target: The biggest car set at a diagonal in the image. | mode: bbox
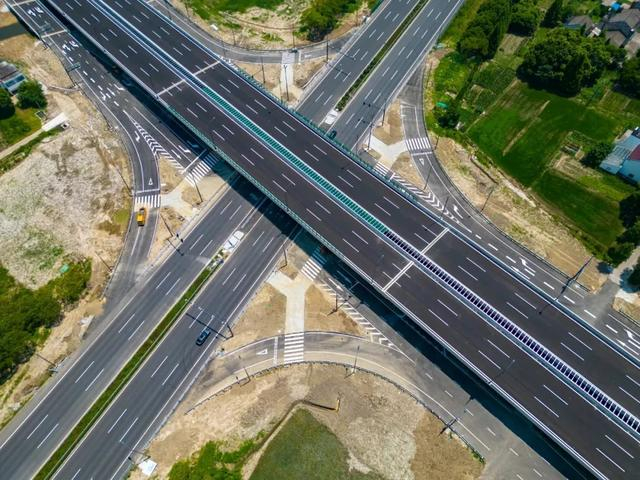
[196,327,211,345]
